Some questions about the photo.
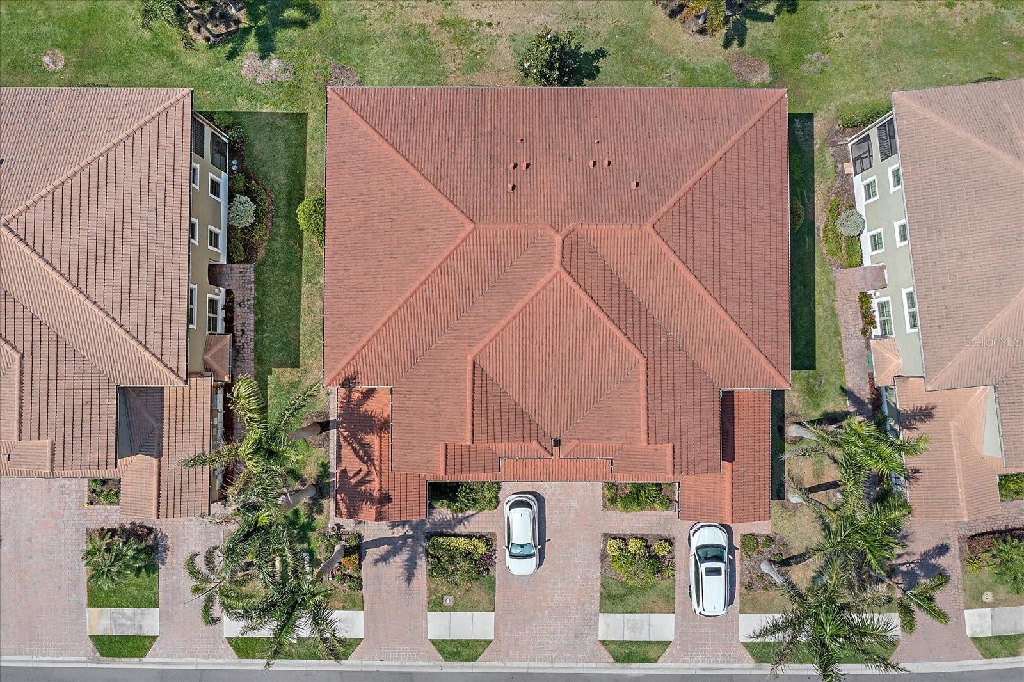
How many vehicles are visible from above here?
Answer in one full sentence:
Altogether the scene contains 2 vehicles.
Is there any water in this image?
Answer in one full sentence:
No, the scene doesn't show any water.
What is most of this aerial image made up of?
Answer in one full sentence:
The largest share of the image is taken up by buildings.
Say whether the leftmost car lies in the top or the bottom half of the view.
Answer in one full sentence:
The leftmost car is in the bottom half of the image.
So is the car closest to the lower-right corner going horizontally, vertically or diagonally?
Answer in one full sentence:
In this picture, the car closest to the lower-right corner lies vertically.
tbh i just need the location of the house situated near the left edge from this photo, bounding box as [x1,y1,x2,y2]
[0,84,233,523]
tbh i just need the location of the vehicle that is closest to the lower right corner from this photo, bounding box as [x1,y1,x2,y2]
[687,522,734,619]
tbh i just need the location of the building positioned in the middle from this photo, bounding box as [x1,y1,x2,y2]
[324,87,790,525]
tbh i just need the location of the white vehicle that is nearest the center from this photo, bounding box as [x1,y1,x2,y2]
[501,491,544,574]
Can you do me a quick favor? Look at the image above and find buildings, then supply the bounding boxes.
[849,76,1024,521]
[324,87,790,525]
[0,84,233,523]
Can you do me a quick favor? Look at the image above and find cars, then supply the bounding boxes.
[501,491,544,574]
[687,522,734,619]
